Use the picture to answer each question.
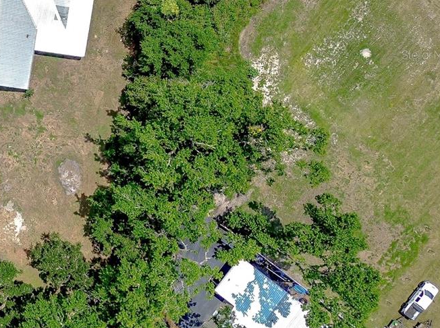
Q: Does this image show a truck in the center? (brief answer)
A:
No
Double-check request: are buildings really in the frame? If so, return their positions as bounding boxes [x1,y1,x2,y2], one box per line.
[212,258,322,328]
[0,0,93,91]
